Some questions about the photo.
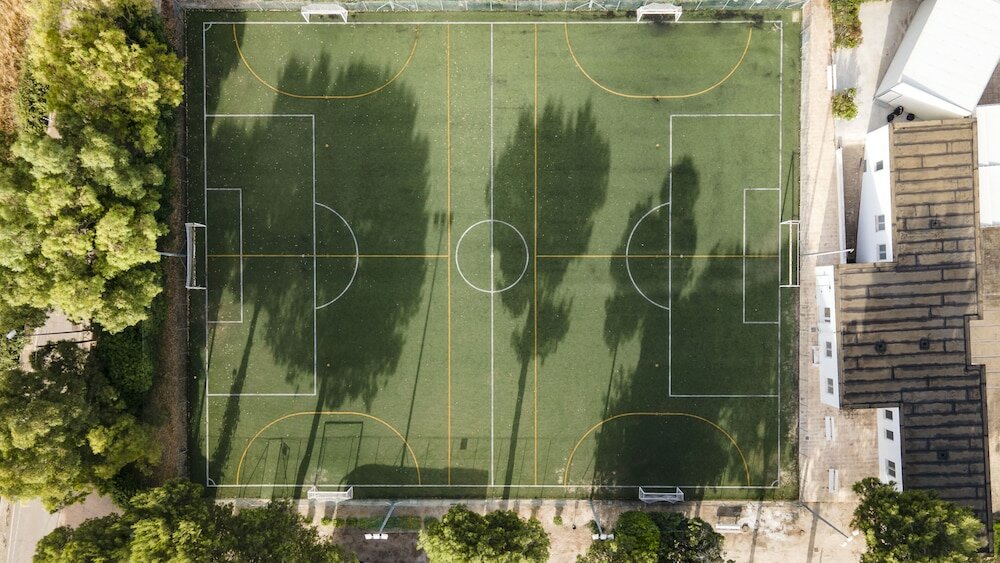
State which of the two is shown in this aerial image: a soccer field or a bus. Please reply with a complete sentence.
I can see a soccer field in this picture.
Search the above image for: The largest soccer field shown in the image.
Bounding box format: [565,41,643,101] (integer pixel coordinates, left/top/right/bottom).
[186,10,805,501]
